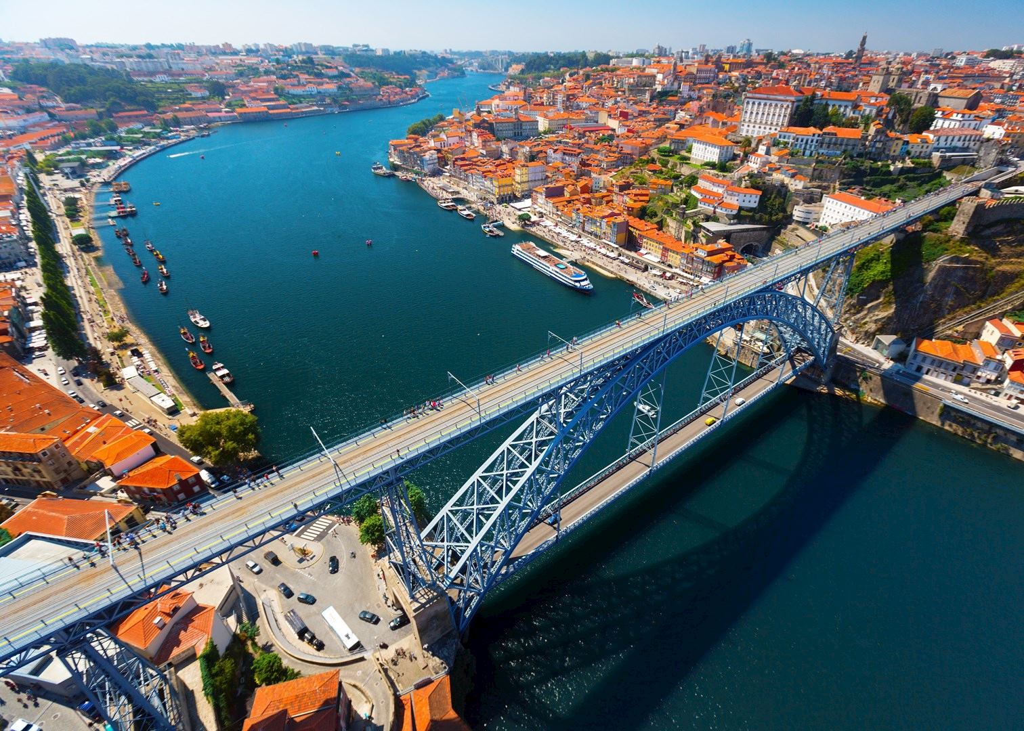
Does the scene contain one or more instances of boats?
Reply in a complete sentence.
Yes, there's a boat down there.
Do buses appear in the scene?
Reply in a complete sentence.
Yes, the photo shows a bus.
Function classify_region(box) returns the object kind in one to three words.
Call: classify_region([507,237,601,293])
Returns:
ship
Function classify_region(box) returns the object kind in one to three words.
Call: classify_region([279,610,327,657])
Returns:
truck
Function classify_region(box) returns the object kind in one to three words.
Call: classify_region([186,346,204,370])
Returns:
boat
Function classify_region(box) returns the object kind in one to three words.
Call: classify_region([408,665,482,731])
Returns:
house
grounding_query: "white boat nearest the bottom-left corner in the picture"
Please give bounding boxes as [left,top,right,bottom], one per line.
[211,359,231,382]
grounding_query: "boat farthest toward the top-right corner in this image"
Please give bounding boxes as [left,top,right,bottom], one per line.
[631,292,652,308]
